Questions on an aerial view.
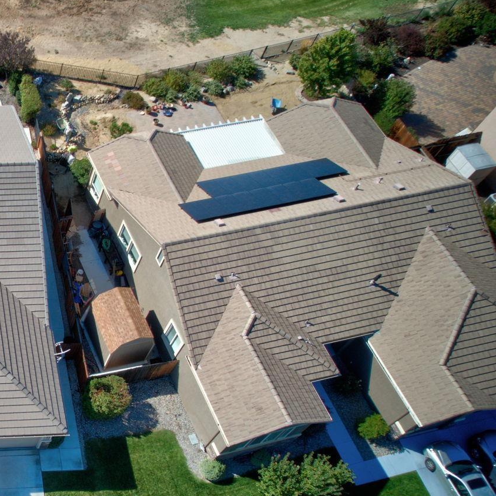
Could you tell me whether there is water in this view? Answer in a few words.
No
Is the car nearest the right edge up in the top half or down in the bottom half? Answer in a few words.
bottom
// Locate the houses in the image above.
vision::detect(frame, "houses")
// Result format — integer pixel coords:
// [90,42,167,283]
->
[86,92,496,458]
[0,105,82,457]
